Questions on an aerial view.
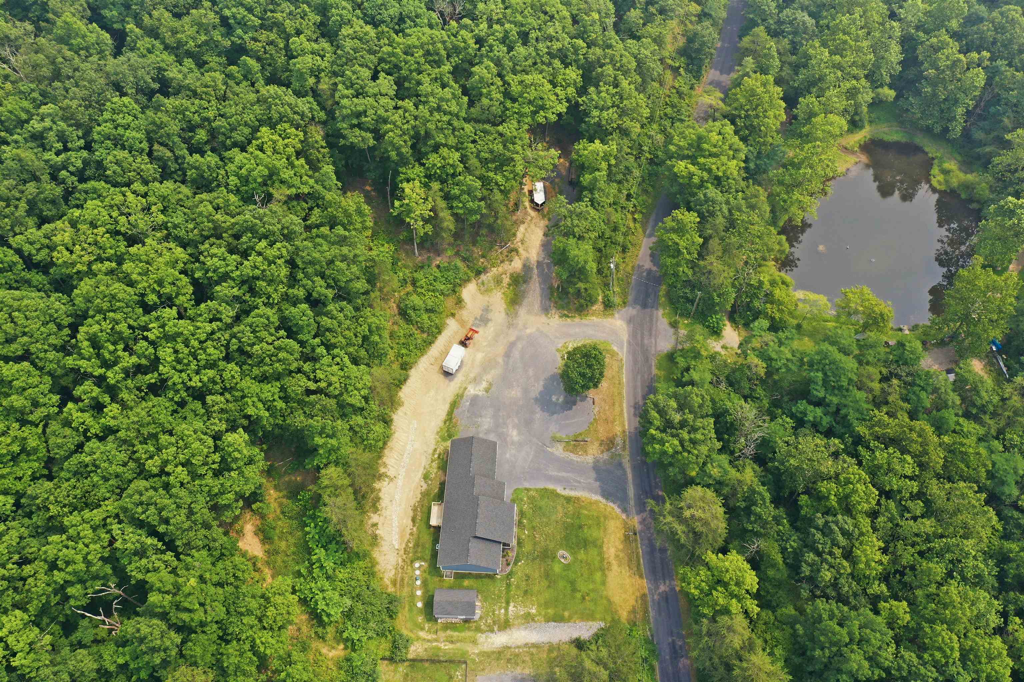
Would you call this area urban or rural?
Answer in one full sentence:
This place is rural.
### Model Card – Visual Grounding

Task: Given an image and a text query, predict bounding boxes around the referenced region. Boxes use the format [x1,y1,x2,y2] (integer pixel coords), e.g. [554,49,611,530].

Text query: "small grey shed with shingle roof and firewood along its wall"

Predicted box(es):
[433,590,482,619]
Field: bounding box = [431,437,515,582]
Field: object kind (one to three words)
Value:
house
